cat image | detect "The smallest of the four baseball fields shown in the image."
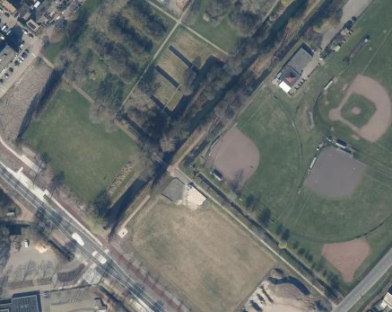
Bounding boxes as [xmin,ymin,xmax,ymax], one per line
[321,238,368,282]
